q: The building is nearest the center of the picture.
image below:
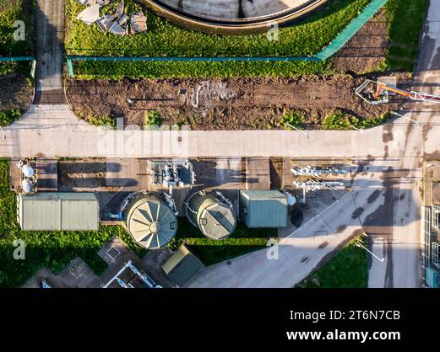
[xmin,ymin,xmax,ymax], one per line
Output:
[239,192,287,228]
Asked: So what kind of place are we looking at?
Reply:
industrial area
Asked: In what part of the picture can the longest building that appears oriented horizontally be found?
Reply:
left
